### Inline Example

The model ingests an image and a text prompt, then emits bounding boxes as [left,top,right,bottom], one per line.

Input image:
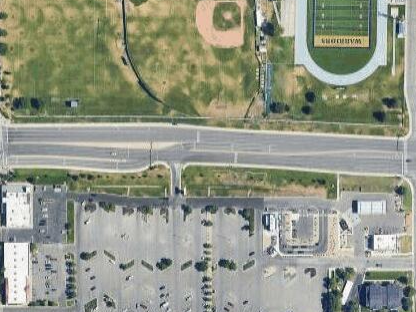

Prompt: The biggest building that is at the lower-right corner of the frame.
[366,284,403,310]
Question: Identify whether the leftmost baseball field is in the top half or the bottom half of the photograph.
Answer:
top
